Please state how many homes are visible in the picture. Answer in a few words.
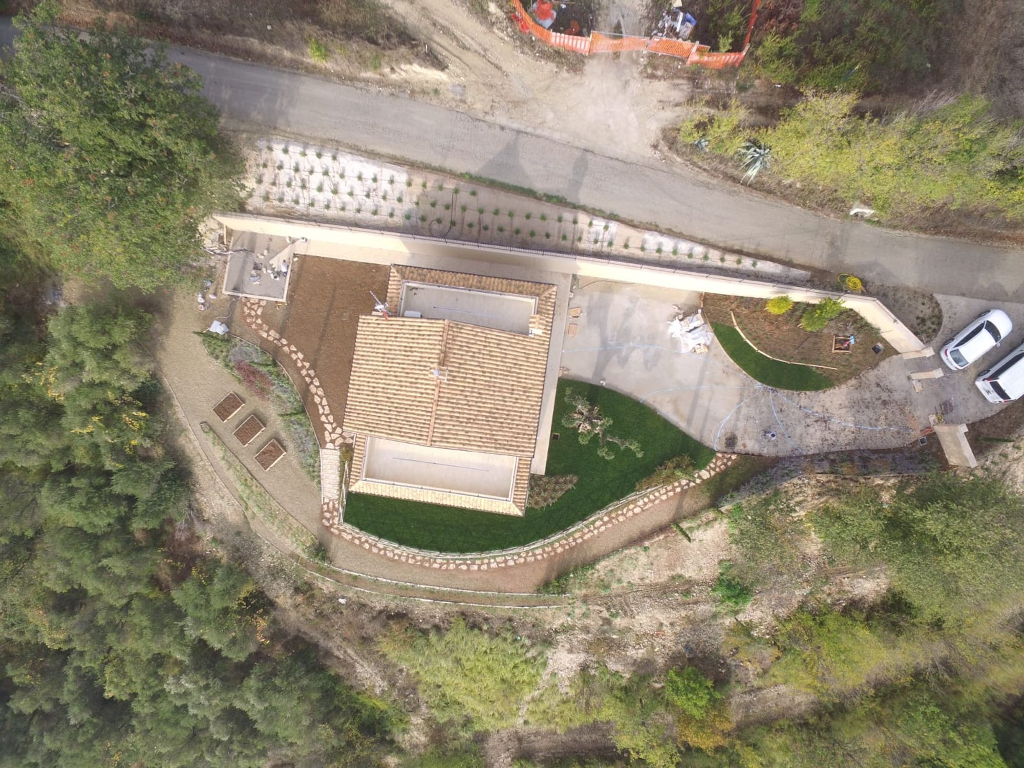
1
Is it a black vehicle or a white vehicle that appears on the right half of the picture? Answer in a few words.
white vehicle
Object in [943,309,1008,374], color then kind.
white car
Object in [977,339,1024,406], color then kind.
white van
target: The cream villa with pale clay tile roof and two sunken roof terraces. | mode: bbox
[341,263,558,517]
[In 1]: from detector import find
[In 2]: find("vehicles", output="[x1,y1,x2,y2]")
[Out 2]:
[977,339,1024,406]
[943,309,1008,374]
